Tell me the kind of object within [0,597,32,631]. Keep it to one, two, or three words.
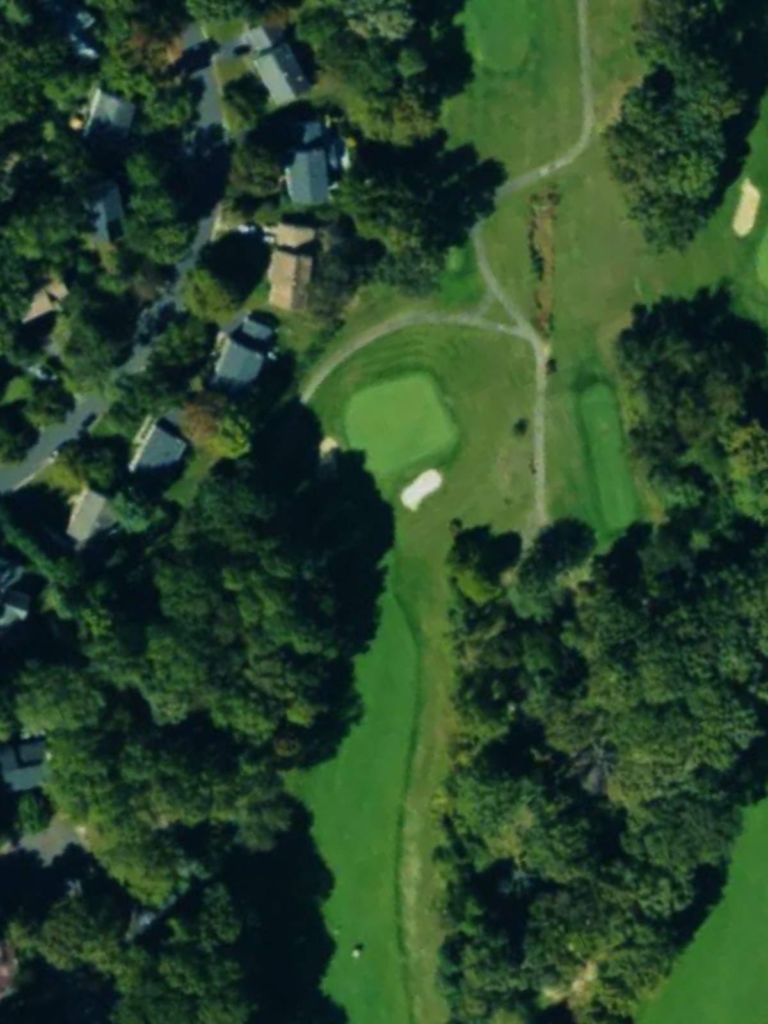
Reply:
house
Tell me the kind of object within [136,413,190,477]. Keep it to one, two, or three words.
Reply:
house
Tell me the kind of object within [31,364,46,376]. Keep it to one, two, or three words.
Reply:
vehicle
